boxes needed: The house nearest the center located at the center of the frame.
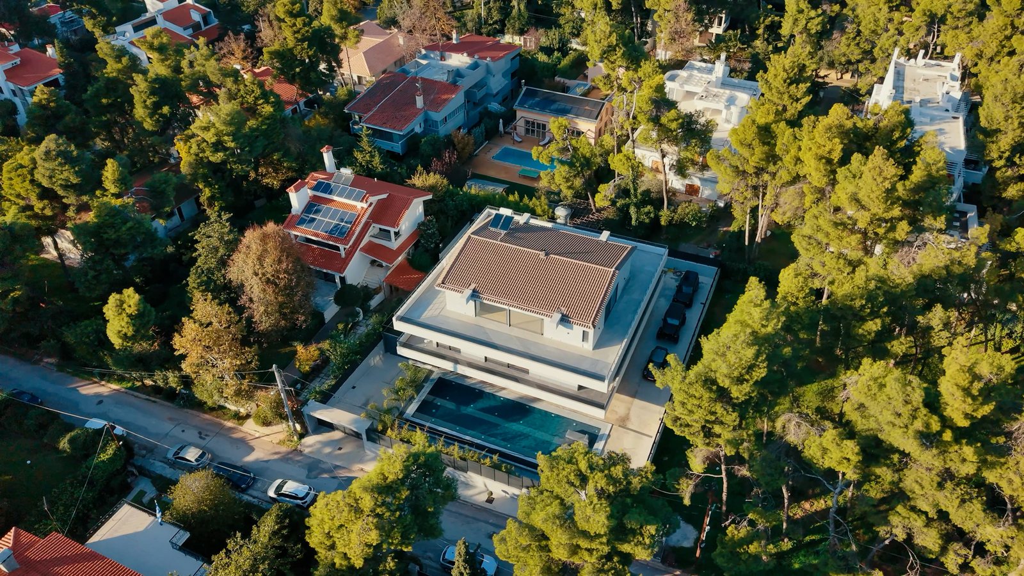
[391,200,668,418]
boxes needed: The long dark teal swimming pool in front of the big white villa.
[403,368,614,474]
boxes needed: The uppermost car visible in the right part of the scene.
[673,266,704,303]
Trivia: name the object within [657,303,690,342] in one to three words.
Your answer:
car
